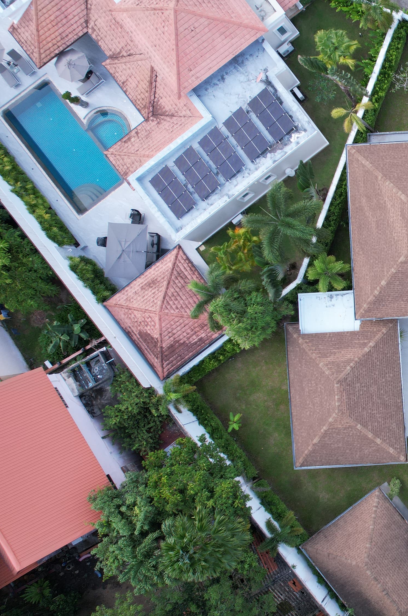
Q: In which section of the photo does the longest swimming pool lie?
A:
top left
